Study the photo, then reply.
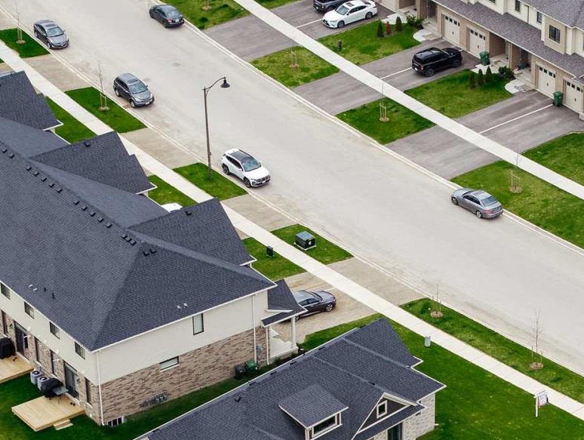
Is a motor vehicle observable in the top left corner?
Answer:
Yes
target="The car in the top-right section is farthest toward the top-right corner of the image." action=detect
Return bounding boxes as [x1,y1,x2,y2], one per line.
[411,46,465,77]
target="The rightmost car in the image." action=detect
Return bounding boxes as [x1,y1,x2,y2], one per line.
[448,186,506,219]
